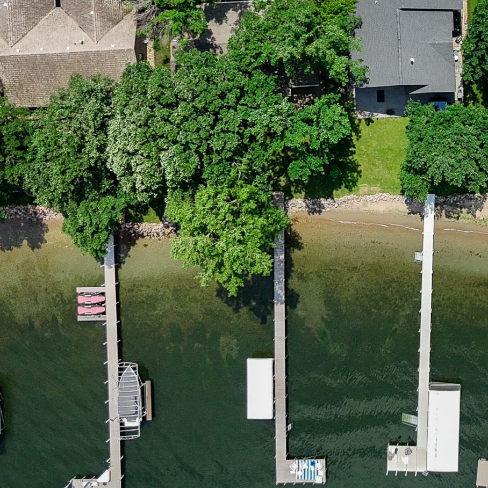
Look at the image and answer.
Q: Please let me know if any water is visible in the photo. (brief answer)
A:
Yes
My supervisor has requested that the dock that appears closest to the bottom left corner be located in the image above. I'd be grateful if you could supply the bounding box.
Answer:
[69,243,126,488]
